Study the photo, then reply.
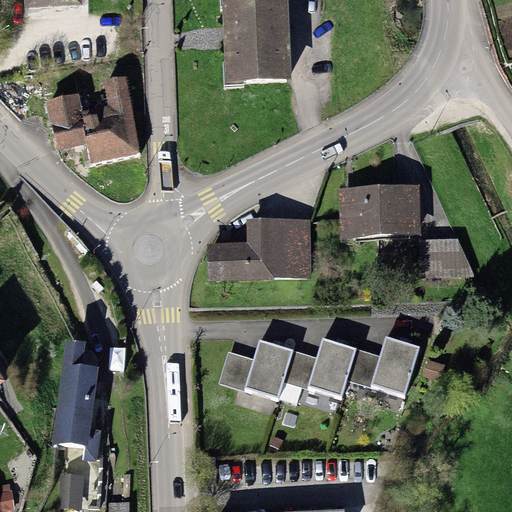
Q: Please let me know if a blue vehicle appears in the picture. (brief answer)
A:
Yes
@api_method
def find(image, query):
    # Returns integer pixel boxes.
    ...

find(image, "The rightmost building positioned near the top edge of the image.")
[219,0,292,91]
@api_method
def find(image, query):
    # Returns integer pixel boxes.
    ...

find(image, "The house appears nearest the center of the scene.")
[208,218,311,284]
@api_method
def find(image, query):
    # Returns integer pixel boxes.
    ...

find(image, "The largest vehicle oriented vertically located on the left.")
[164,362,181,425]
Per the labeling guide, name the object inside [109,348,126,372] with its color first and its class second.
white gazebo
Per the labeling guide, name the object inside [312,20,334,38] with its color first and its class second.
blue car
